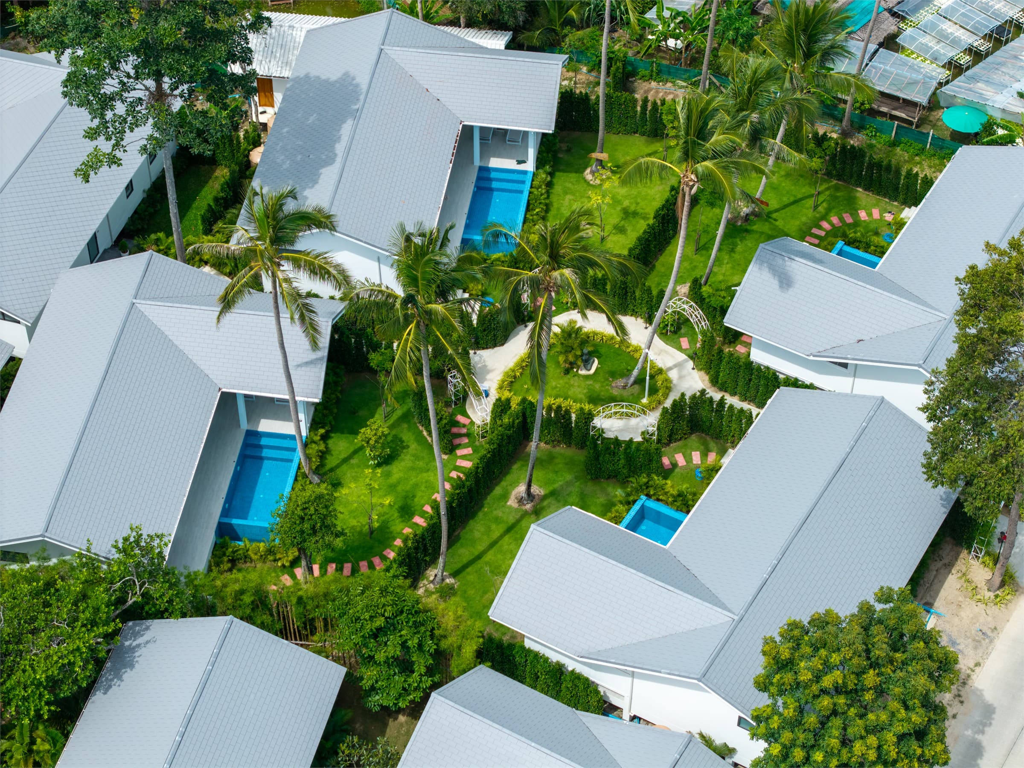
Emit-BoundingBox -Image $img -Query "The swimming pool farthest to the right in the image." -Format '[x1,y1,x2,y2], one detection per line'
[837,245,880,267]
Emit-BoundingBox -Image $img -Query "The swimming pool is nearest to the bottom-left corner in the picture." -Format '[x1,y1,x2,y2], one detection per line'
[218,437,298,528]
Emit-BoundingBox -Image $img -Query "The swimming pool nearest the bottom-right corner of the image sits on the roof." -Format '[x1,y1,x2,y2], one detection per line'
[626,499,685,547]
